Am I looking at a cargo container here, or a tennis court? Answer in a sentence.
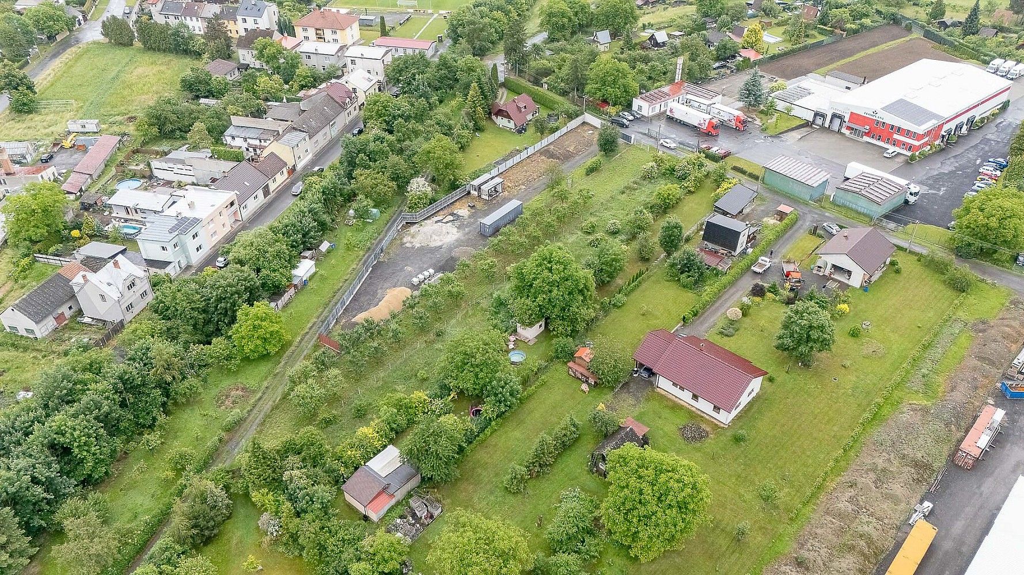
Visible in the photo is a cargo container.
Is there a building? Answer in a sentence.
Yes, I can see a building in this picture.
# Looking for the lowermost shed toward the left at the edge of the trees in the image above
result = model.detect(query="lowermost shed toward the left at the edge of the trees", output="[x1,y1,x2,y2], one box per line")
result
[346,444,421,522]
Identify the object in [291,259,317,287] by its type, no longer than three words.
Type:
shed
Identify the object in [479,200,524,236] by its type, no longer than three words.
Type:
shipping container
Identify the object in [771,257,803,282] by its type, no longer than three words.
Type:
truck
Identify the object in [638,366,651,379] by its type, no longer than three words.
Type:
vehicle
